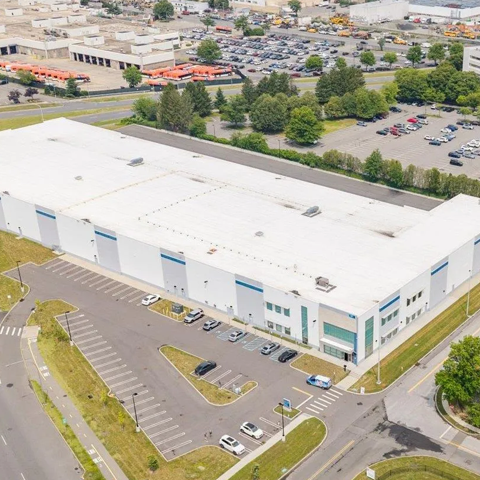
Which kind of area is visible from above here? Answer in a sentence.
The area seen from above is an industrial area.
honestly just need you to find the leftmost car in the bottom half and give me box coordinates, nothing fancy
[140,293,161,305]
